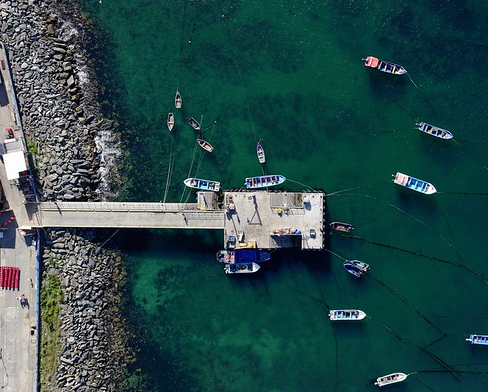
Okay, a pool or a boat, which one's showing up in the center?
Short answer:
boat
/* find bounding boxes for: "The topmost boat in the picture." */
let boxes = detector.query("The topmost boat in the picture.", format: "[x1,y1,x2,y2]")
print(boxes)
[359,54,408,73]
